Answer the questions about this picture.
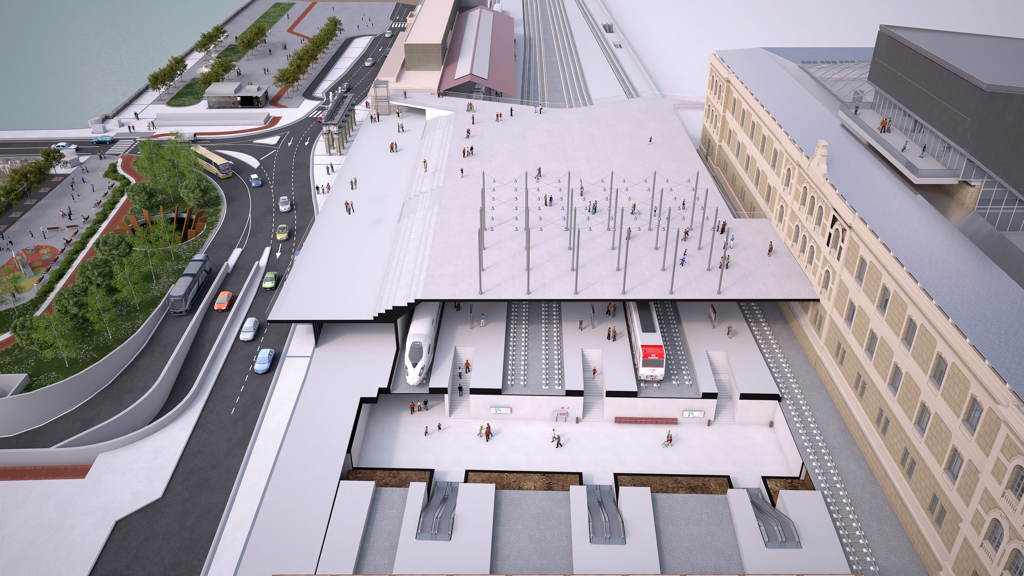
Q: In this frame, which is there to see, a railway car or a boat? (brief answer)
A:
railway car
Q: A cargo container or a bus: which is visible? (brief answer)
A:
bus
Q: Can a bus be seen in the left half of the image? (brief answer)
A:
Yes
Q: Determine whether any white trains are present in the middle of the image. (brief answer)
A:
Yes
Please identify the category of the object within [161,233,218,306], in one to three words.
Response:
bus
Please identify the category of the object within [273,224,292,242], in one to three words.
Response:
car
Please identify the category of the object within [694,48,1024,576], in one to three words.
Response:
building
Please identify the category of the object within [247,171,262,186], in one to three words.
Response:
car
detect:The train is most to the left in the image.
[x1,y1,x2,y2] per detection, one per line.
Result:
[401,303,440,381]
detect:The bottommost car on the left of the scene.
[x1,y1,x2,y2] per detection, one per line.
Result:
[252,348,275,380]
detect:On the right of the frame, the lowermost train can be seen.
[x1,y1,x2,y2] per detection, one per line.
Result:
[624,302,670,382]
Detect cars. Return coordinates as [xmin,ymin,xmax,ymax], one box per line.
[365,57,374,66]
[316,109,328,121]
[48,139,79,149]
[273,224,292,242]
[383,47,392,56]
[340,82,351,92]
[259,270,279,292]
[237,318,260,346]
[252,348,275,380]
[290,247,302,267]
[89,133,115,144]
[247,171,262,186]
[384,29,393,37]
[275,195,293,212]
[211,293,236,316]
